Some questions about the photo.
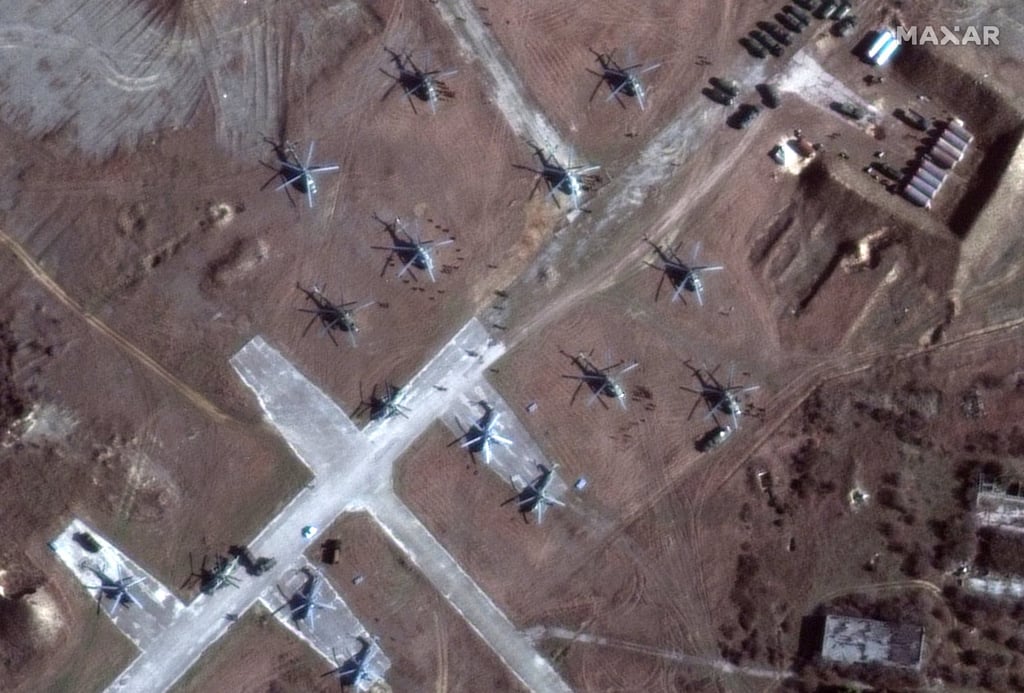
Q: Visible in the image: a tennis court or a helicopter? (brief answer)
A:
helicopter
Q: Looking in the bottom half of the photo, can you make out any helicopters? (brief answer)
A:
Yes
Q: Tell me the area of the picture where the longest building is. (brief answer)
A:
bottom right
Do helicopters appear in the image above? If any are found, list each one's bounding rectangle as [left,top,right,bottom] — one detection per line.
[394,41,459,111]
[334,638,387,693]
[94,561,147,614]
[462,401,515,463]
[538,135,603,204]
[388,212,454,277]
[196,552,240,594]
[285,565,339,632]
[662,239,727,306]
[366,380,409,422]
[275,138,338,206]
[697,360,762,428]
[309,281,374,344]
[515,463,568,524]
[575,347,641,410]
[598,44,663,107]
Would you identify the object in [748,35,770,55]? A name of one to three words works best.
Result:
vehicle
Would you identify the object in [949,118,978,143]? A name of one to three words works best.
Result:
tent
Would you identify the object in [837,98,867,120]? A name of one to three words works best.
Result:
truck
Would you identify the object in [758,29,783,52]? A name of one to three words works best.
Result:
truck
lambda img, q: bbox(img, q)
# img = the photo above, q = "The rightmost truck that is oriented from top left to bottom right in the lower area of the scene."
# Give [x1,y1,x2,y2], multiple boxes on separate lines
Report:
[234,546,260,568]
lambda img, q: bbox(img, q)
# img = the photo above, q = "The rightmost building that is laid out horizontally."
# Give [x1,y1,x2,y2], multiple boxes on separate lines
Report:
[823,615,923,669]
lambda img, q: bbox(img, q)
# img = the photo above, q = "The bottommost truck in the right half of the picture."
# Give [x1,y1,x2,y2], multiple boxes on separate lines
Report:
[703,426,730,449]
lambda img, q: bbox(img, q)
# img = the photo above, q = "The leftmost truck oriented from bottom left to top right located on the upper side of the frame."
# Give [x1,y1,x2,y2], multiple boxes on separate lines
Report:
[737,105,760,126]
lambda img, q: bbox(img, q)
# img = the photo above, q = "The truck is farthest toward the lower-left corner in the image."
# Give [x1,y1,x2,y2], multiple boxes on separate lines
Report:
[79,534,104,555]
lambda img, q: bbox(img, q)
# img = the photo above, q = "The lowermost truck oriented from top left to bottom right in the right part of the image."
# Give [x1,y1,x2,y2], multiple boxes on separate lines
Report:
[876,161,906,184]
